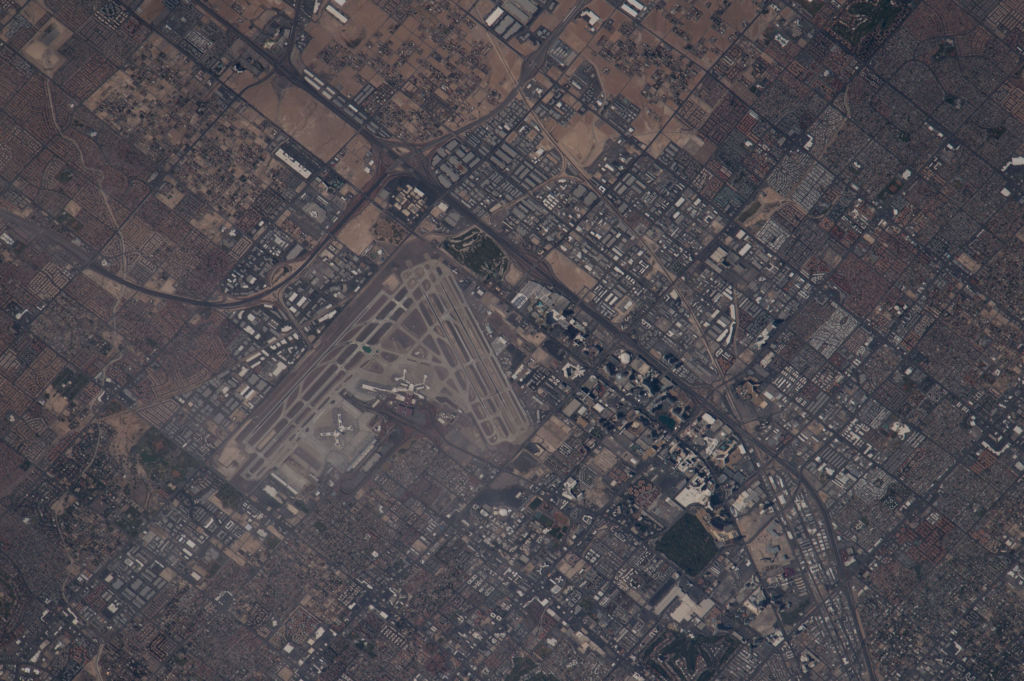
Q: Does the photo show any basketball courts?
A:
No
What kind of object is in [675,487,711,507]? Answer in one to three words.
building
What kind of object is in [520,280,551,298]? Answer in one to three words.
building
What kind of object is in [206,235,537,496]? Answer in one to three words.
airport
